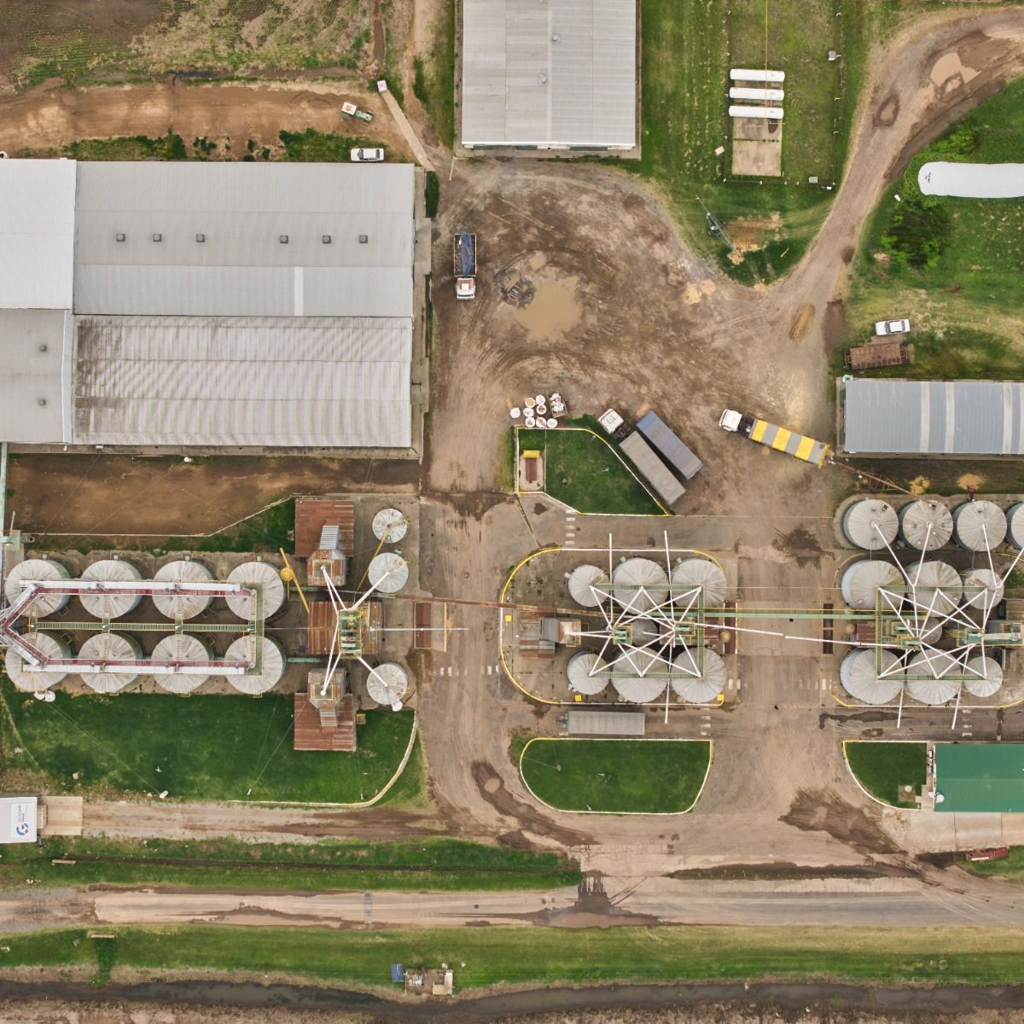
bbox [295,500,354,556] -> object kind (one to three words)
shed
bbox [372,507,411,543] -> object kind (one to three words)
silo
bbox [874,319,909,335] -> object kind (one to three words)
car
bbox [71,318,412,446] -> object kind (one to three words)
warehouse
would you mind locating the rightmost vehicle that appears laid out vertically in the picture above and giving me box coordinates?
[453,231,477,303]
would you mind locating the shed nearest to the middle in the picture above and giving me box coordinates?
[523,450,540,481]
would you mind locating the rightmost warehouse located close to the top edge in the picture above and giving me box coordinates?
[461,0,637,151]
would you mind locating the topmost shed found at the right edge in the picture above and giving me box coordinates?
[840,380,1024,454]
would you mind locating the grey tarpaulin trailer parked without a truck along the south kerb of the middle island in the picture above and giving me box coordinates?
[556,710,645,735]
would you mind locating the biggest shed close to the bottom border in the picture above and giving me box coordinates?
[404,969,453,999]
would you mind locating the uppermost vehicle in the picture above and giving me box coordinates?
[341,98,372,126]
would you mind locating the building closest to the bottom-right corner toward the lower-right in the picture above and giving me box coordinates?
[933,742,1024,812]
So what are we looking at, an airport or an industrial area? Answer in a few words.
industrial area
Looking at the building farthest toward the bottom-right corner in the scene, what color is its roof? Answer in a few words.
green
